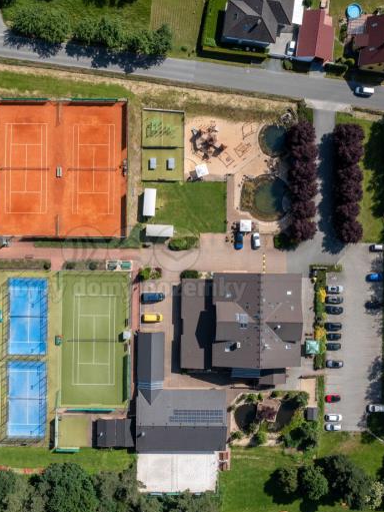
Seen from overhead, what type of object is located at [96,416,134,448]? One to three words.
shed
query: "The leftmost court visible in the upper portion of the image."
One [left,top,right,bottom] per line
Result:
[0,101,59,236]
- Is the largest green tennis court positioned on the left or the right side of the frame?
left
